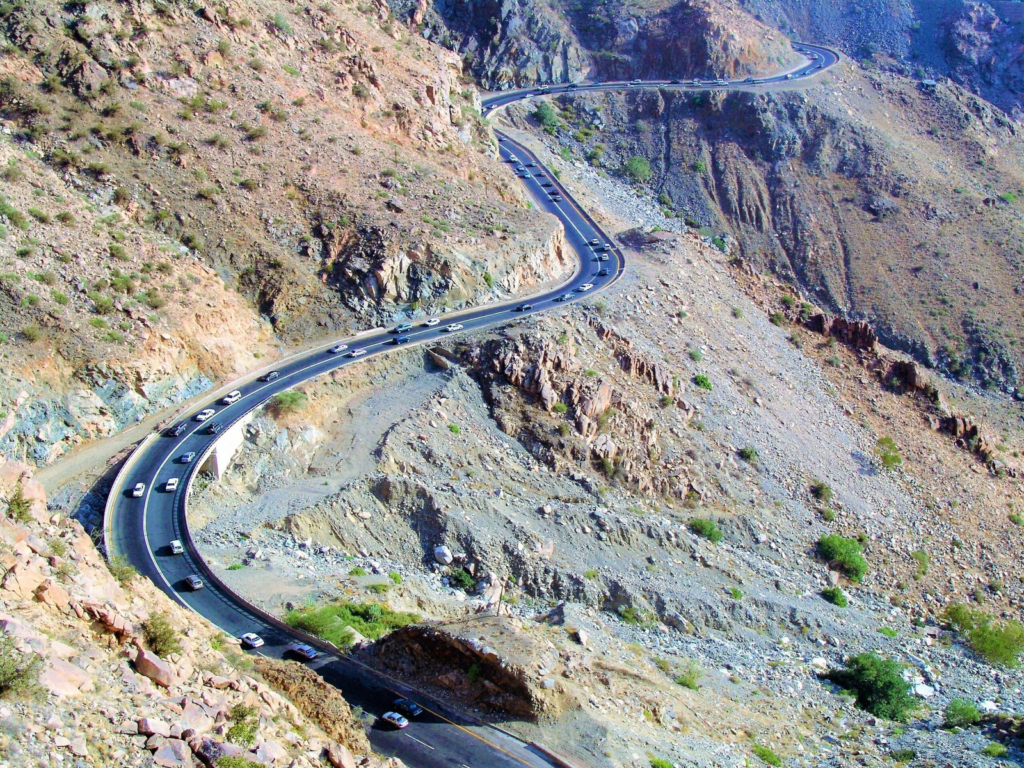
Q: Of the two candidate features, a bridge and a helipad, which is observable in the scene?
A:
bridge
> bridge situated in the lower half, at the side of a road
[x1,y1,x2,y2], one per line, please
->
[99,361,350,620]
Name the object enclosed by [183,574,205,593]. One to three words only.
car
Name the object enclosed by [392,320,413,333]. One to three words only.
vehicle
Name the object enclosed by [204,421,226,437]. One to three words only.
car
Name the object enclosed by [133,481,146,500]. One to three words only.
vehicle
